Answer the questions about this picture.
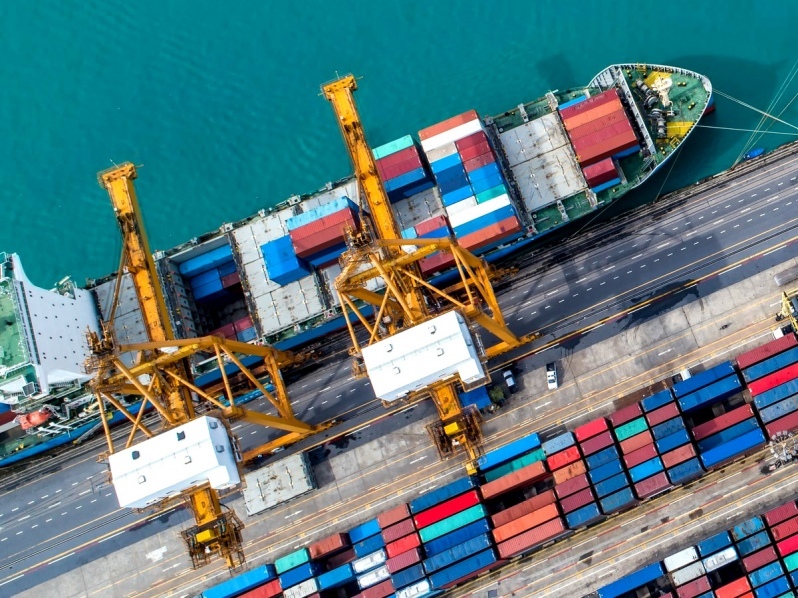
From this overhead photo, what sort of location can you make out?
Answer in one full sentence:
The area seen from above is a port.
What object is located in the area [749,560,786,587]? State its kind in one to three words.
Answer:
shipping container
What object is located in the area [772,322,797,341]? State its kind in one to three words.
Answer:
vehicle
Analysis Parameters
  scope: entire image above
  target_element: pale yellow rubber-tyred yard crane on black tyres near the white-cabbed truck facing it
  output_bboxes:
[773,284,798,337]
